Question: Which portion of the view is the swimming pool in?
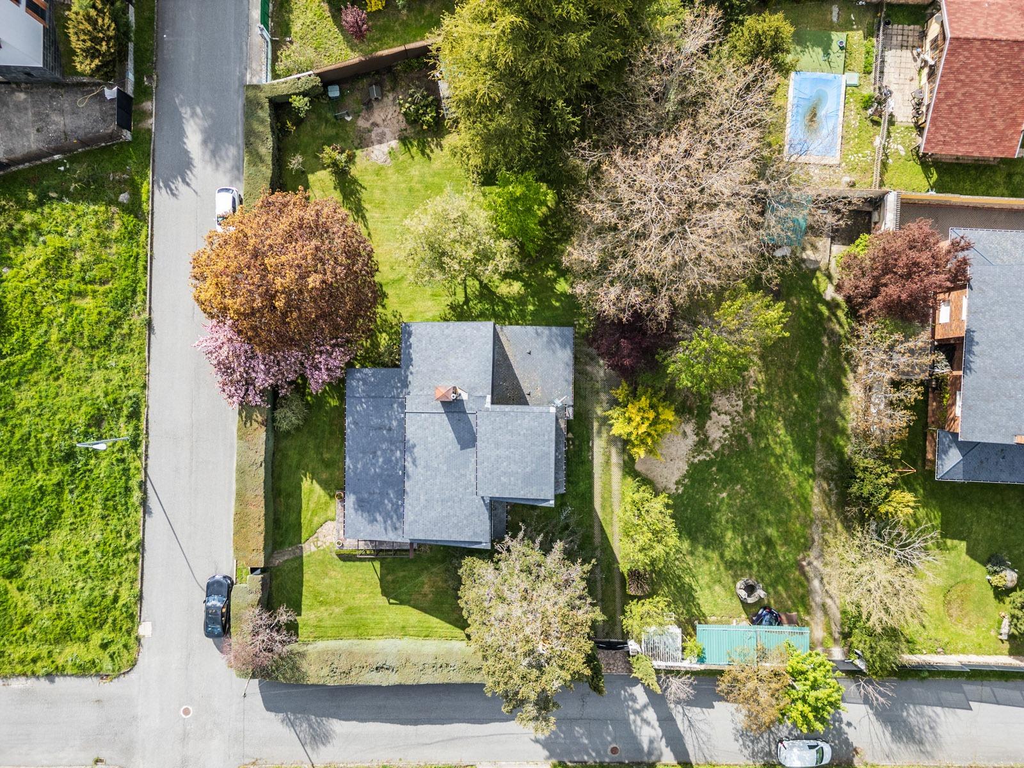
top right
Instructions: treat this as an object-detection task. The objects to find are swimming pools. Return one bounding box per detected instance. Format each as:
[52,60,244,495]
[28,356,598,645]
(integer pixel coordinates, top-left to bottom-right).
[785,69,846,163]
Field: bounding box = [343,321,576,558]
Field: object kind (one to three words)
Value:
house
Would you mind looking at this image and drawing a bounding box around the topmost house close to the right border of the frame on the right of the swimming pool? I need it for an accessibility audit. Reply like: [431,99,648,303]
[919,0,1024,163]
